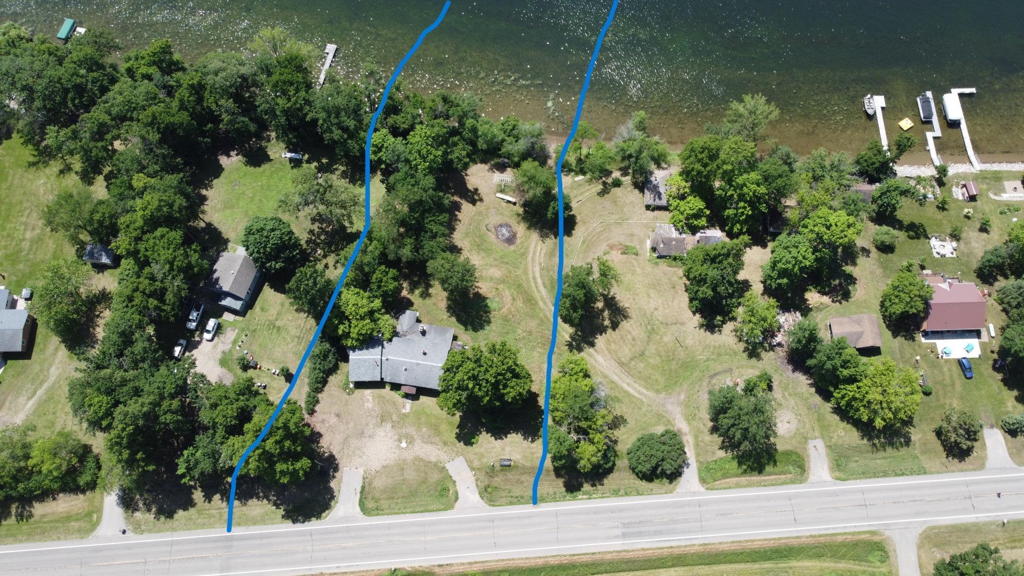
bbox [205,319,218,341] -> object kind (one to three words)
vehicle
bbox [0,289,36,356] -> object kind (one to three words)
house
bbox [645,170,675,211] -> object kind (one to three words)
building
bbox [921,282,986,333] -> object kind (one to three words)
house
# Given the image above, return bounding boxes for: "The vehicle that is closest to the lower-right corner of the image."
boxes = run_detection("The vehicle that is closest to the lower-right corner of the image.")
[958,358,974,380]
